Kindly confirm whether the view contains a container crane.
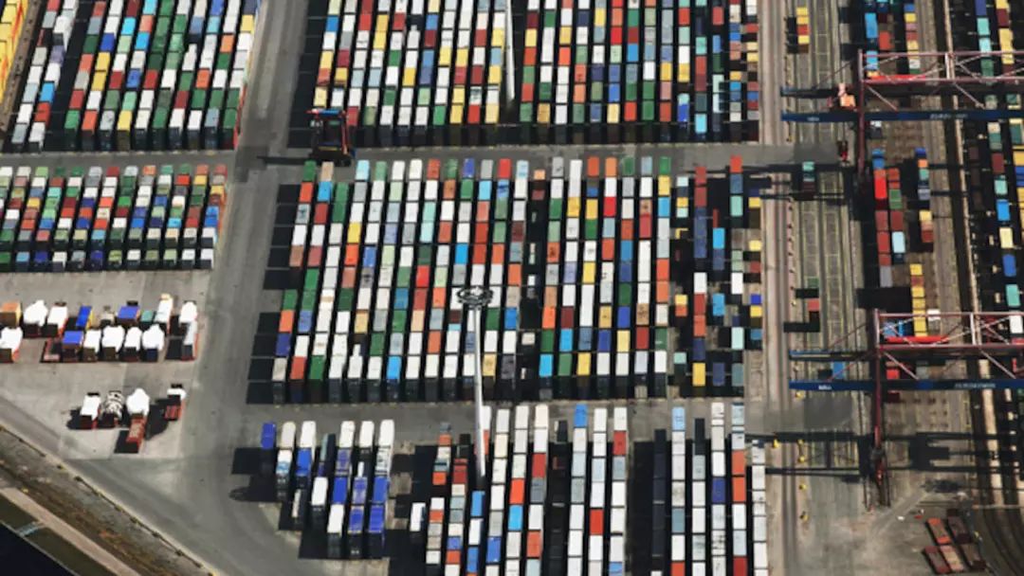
Yes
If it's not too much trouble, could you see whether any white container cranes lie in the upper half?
No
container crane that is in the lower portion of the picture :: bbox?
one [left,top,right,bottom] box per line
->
[789,310,1024,494]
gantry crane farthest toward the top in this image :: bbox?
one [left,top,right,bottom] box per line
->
[782,50,1024,214]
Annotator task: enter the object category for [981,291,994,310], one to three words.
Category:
rail car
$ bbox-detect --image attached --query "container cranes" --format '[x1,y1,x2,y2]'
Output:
[782,50,1024,214]
[789,310,1024,494]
